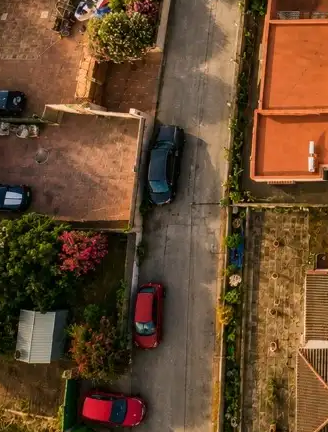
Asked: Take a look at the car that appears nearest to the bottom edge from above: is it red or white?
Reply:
red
